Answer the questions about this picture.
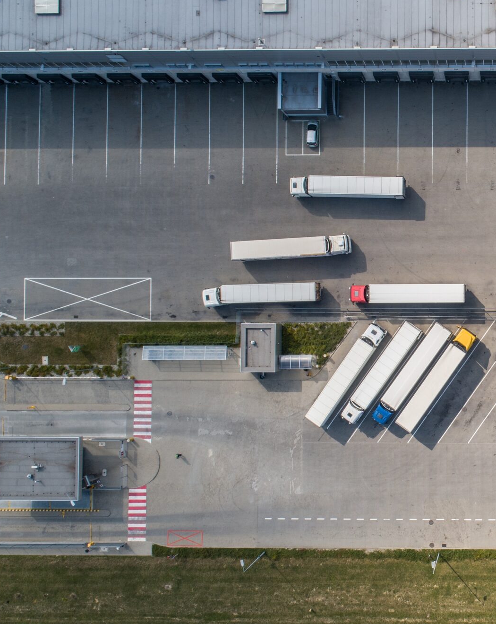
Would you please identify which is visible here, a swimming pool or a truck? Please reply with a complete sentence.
Looking from above, you can make out a truck.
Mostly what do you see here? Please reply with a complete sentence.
What you mostly see from above here is paved ground.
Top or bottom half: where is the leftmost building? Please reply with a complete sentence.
You can find the leftmost building in the bottom half.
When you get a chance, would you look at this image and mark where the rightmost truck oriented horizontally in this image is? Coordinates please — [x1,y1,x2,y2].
[350,284,466,306]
